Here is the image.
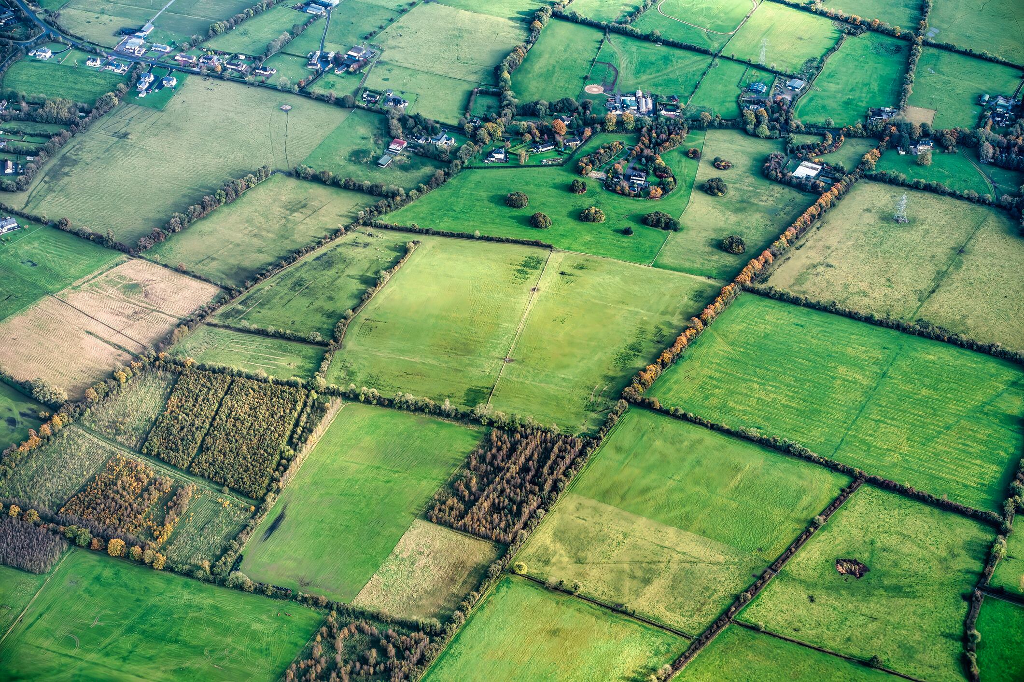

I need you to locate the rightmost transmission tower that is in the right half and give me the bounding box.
[894,191,912,225]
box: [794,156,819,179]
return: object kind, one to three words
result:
building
